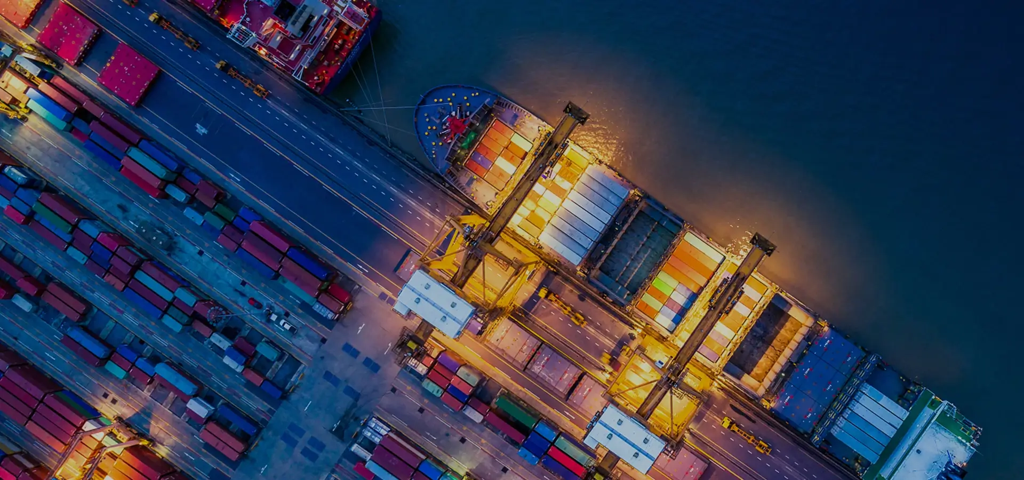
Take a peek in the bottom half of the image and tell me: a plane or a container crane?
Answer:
container crane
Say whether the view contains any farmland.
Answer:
No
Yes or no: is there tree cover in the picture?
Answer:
No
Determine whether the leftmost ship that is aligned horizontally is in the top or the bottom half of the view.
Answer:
top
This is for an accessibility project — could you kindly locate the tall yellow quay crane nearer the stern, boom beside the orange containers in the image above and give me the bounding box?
[578,232,783,480]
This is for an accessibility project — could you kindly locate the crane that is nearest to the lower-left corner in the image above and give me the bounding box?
[51,417,152,480]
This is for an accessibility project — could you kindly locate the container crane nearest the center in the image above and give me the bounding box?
[386,98,590,361]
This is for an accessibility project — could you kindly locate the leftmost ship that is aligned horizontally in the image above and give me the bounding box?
[189,0,380,92]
